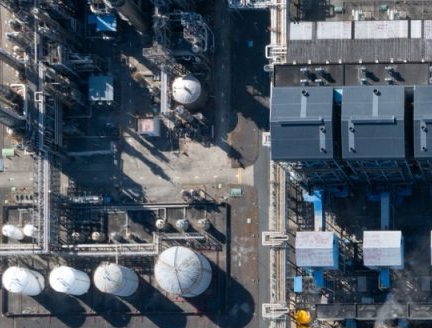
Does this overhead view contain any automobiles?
No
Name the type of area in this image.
industrial area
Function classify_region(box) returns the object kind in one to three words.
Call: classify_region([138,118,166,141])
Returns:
building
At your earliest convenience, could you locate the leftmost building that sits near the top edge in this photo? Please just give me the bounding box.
[88,15,131,44]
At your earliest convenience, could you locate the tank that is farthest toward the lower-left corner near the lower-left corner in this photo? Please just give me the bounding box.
[0,267,44,297]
